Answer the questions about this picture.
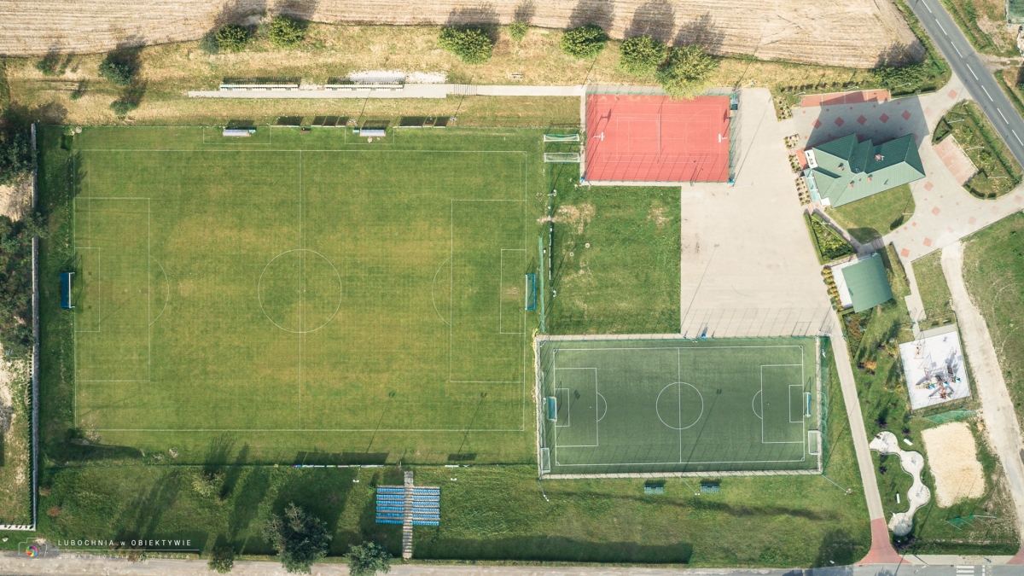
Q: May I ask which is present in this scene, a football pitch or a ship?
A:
football pitch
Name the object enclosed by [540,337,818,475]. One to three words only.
soccer field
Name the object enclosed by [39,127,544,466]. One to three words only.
soccer field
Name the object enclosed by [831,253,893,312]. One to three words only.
building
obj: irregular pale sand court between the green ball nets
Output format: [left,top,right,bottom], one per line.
[921,422,986,507]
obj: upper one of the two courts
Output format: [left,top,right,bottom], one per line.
[585,95,729,182]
